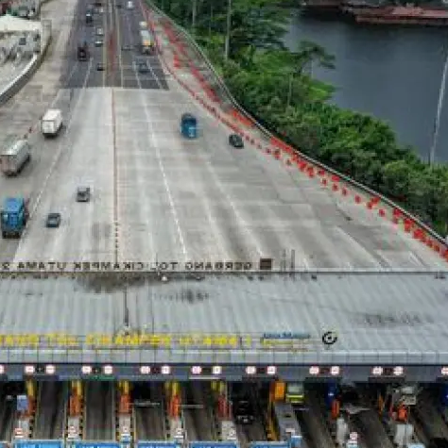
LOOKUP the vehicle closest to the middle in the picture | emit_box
[226,132,242,145]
